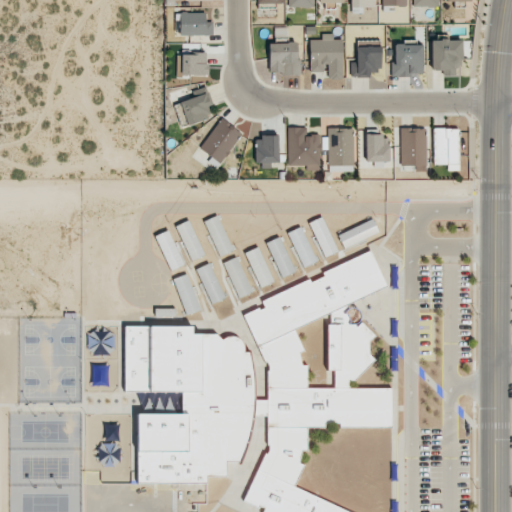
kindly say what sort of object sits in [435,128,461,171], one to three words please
house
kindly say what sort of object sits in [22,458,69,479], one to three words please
sports court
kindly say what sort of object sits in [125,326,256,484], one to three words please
building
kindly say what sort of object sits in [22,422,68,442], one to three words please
sports court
